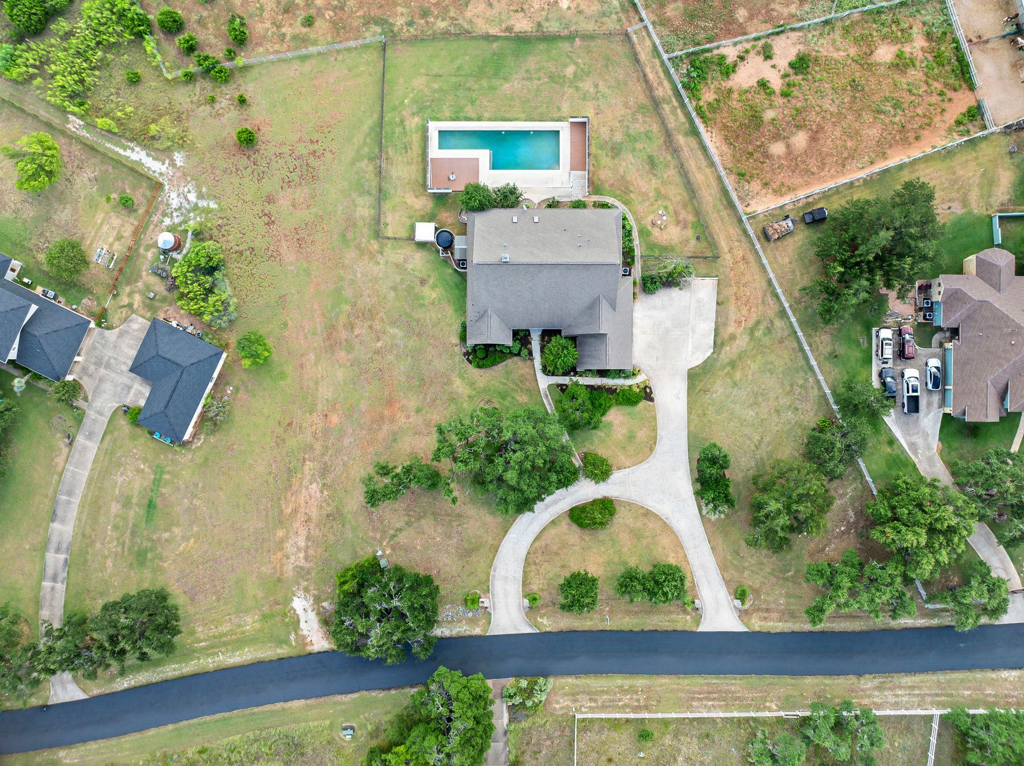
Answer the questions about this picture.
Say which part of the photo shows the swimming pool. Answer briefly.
top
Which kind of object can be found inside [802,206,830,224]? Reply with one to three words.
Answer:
vehicle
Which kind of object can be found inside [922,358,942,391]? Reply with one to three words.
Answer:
car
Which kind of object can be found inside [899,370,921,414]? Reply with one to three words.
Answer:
truck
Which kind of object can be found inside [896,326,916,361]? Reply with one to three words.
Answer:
car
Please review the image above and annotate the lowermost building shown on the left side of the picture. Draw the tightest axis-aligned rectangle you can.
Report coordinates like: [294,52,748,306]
[128,318,231,444]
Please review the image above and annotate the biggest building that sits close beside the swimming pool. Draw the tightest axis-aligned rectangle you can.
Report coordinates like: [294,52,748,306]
[467,204,633,370]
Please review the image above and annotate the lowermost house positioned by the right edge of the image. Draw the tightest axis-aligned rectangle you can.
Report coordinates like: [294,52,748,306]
[928,247,1024,422]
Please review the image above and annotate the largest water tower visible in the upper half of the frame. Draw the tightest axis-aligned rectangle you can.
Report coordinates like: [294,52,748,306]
[154,228,188,255]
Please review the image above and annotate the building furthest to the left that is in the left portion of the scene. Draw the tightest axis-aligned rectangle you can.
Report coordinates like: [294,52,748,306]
[0,253,100,382]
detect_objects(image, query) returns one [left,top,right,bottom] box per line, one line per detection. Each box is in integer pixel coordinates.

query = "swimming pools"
[426,113,592,207]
